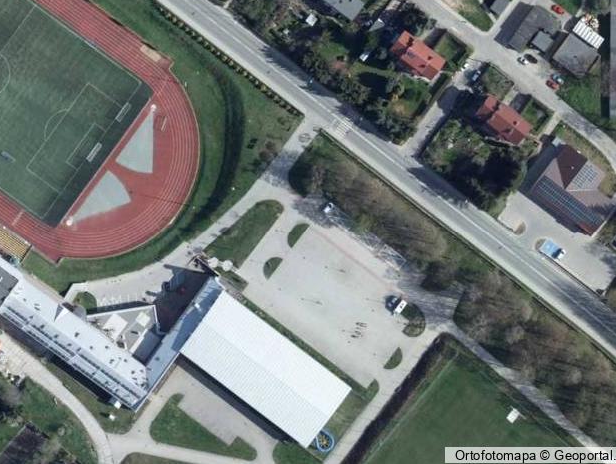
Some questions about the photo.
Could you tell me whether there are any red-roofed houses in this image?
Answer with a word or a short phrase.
Yes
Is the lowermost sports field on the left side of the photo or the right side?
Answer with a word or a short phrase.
right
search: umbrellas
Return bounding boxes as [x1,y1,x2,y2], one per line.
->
[208,257,219,267]
[223,260,232,270]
